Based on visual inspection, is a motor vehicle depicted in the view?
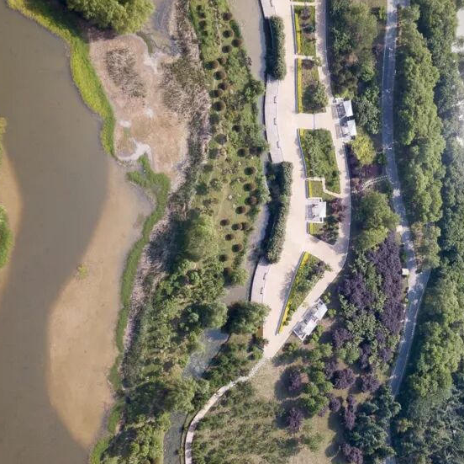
No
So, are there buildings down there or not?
Yes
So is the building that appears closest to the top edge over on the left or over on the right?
right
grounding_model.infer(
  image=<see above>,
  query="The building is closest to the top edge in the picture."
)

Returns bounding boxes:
[333,98,356,138]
